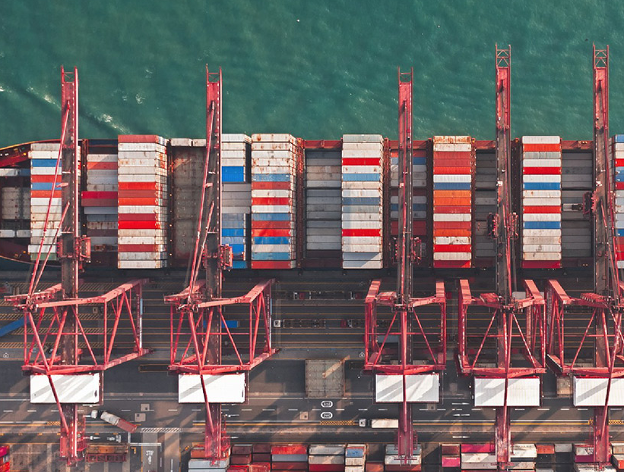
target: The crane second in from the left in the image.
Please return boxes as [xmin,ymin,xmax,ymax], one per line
[167,67,290,471]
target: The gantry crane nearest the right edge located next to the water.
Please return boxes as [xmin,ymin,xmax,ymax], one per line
[536,46,624,471]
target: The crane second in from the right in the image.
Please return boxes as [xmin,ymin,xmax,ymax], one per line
[452,46,546,471]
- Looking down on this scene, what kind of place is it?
port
